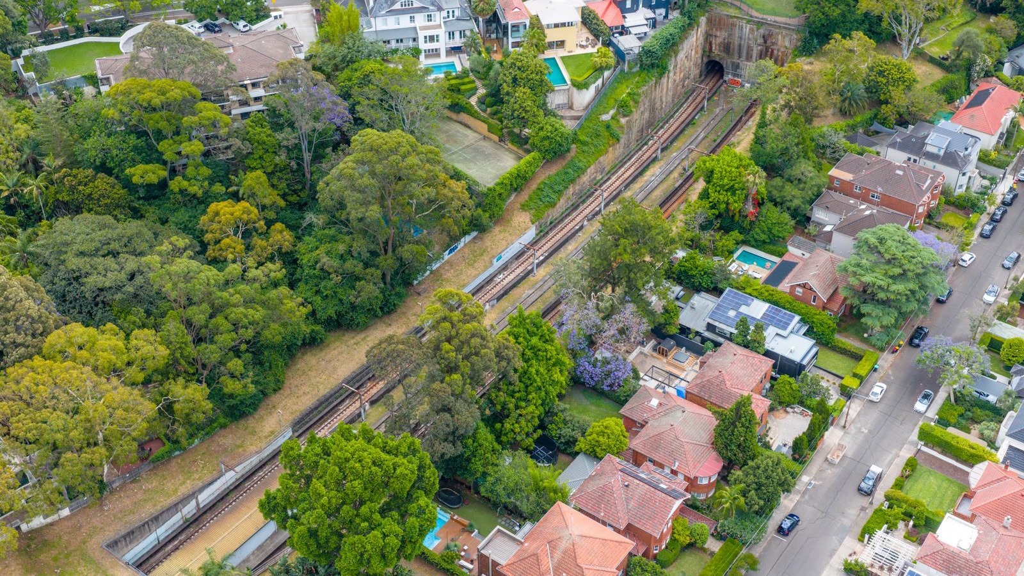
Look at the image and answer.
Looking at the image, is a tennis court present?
Yes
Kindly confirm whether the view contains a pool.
Yes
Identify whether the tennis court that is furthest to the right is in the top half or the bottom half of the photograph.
top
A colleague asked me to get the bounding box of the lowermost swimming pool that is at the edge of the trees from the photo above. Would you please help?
[420,509,452,552]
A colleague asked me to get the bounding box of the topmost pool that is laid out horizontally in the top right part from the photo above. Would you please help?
[927,108,956,122]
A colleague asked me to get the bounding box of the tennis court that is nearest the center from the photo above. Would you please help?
[411,122,522,188]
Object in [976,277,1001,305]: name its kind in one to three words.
car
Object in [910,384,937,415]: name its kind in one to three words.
car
